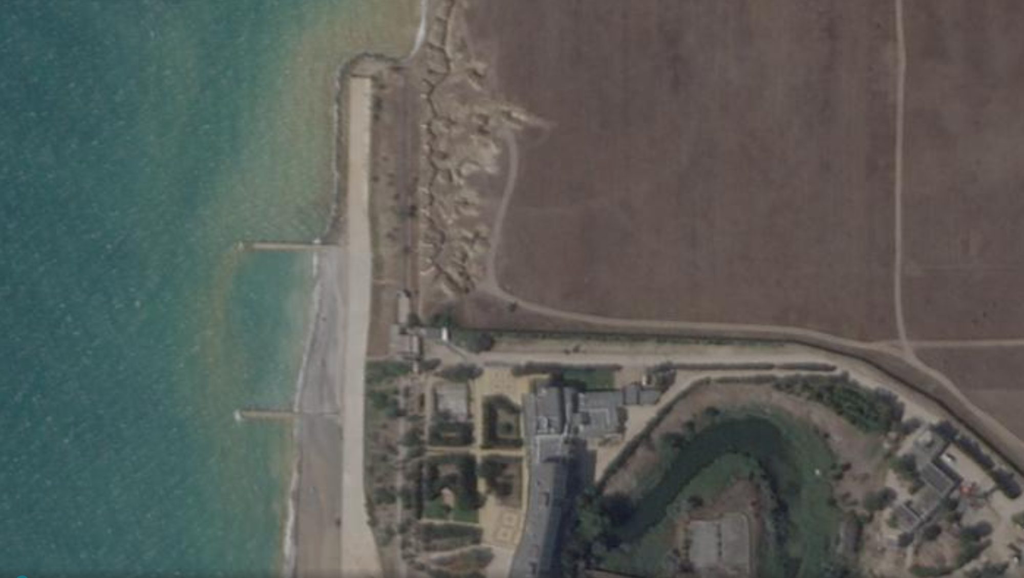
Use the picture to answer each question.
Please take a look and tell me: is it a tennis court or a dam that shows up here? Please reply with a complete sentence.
It is a tennis court that can be seen here.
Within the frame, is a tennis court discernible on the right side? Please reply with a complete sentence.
Yes, you'll find a tennis court on the right side.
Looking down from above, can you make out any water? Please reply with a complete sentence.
Yes, some water is visible.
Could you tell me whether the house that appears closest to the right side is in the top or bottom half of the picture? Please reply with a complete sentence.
The bottom half of the photo is where the house that appears closest to the right side is.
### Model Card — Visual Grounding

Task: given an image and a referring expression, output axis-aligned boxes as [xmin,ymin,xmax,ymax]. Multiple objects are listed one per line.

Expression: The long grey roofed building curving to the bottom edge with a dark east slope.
[511,457,568,578]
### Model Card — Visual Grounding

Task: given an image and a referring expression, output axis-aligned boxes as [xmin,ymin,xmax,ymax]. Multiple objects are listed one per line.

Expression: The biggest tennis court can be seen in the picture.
[689,518,749,577]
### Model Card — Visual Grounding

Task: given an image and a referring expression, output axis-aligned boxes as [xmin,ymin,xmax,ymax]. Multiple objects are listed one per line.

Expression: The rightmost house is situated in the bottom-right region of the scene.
[891,429,955,533]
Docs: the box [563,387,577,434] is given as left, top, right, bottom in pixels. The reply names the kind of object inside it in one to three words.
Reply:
building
